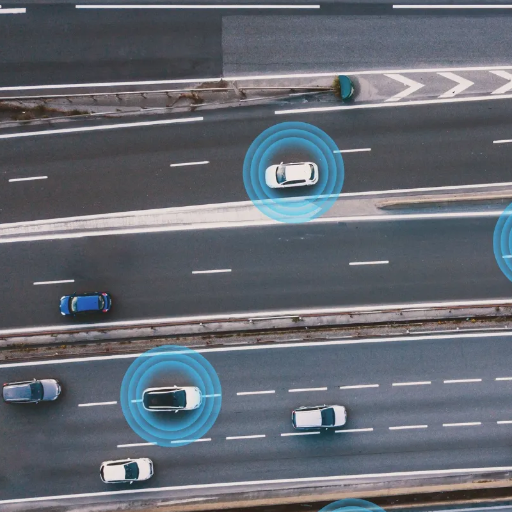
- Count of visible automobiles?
5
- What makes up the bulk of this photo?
paved ground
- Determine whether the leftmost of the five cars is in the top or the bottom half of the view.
bottom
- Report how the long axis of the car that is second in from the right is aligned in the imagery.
horizontally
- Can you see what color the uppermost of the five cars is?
white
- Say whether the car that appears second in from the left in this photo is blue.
Yes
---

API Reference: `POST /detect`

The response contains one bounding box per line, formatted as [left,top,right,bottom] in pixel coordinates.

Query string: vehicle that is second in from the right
[142,384,202,412]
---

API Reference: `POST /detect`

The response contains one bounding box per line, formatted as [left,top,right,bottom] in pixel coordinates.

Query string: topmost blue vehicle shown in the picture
[60,291,112,318]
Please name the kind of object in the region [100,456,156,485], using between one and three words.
car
